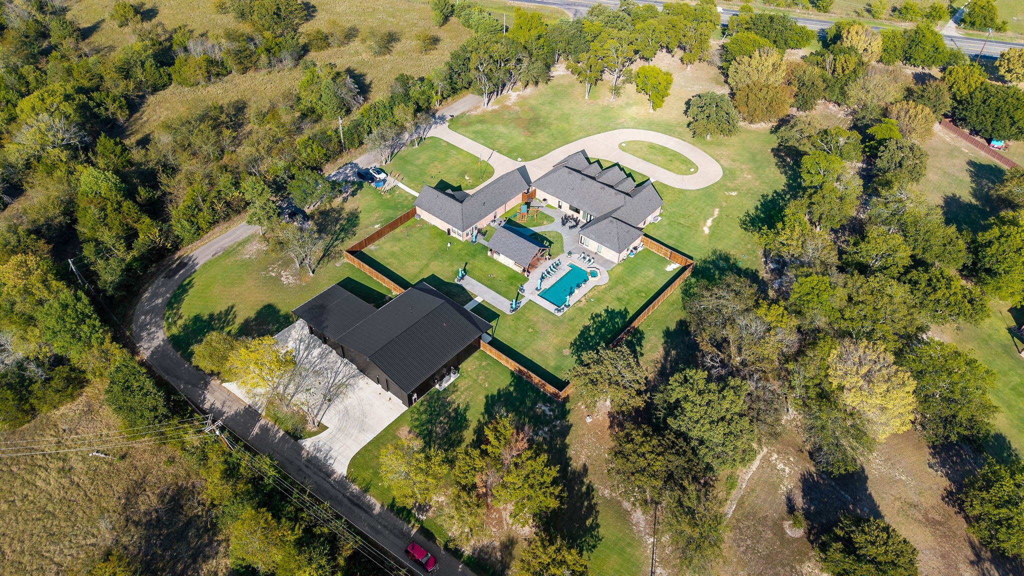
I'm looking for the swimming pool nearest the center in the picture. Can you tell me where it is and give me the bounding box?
[537,262,593,307]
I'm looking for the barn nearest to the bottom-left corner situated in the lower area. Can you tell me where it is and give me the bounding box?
[291,283,496,409]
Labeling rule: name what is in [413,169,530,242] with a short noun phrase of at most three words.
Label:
house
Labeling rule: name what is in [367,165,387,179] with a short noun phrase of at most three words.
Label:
car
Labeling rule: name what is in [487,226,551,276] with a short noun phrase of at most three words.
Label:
building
